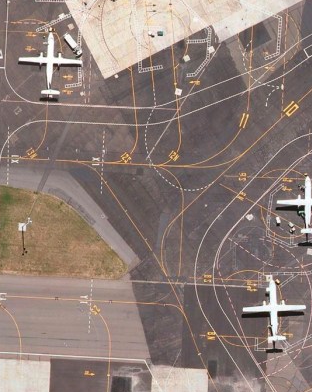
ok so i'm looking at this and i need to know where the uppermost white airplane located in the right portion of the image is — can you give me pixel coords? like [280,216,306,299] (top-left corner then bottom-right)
[277,176,312,234]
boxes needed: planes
[242,281,306,343]
[19,32,82,95]
[277,176,312,234]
